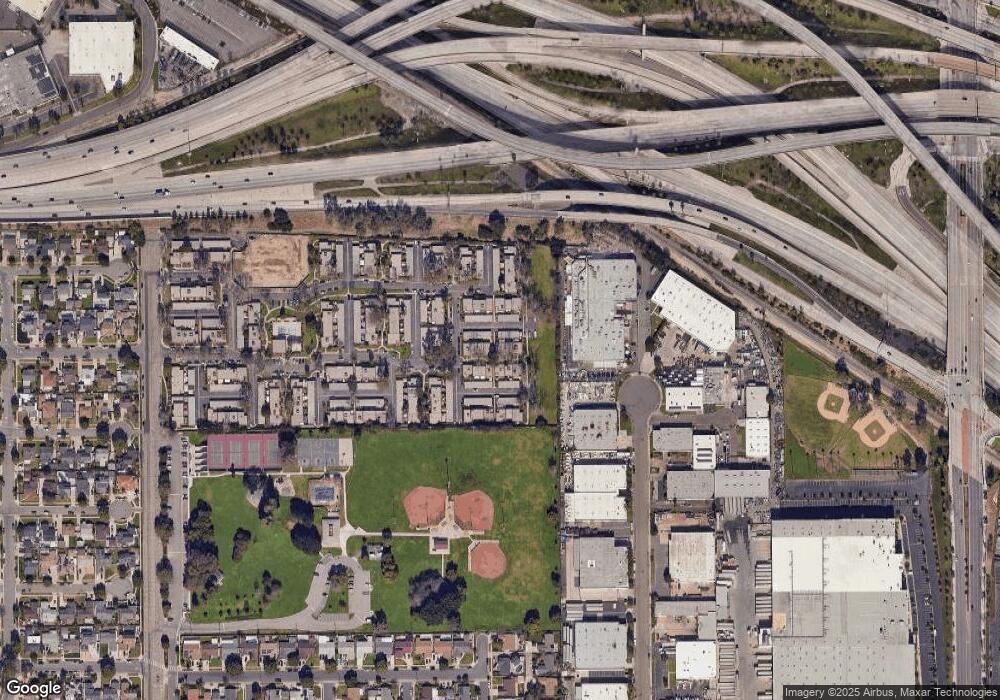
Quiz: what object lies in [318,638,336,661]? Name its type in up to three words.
house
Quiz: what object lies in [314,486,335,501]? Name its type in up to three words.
swimming pool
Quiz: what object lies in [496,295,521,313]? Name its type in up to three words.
building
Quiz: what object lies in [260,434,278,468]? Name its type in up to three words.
tennis court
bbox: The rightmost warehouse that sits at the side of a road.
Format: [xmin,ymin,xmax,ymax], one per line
[772,519,916,700]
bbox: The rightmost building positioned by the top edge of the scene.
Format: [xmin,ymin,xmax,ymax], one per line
[160,26,219,70]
